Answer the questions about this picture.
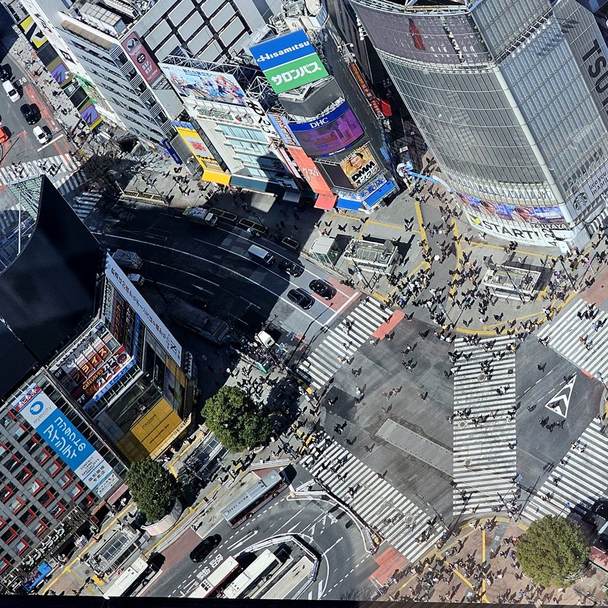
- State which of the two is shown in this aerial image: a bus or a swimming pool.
bus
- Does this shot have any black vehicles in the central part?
Yes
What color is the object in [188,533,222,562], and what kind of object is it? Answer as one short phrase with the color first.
black car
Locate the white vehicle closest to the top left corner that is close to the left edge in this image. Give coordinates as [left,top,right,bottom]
[2,81,18,102]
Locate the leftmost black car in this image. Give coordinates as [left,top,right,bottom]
[0,61,12,81]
